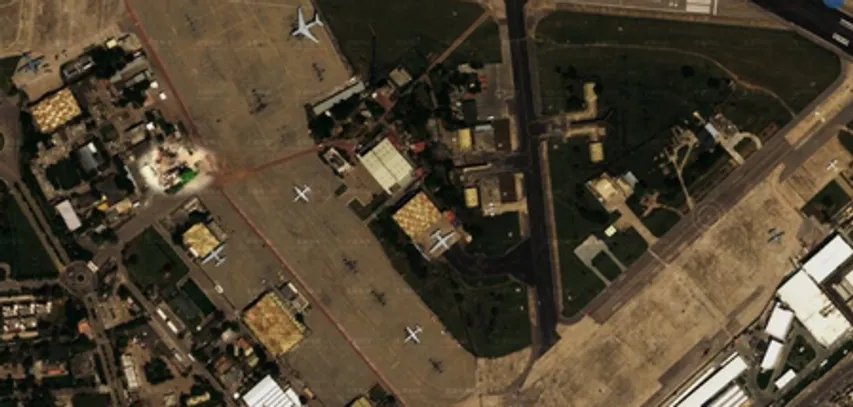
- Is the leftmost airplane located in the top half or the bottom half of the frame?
top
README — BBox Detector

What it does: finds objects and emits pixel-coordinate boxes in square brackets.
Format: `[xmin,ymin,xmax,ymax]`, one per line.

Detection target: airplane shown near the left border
[17,51,44,73]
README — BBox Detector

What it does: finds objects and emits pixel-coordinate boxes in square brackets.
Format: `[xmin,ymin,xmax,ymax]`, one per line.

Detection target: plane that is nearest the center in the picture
[428,228,457,252]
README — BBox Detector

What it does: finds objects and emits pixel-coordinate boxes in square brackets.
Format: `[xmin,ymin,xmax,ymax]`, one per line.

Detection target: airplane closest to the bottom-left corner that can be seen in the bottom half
[202,245,227,268]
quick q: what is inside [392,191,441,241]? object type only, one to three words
hangar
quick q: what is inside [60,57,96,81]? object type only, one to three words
shed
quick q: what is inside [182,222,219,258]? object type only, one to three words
hangar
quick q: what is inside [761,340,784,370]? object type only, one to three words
building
